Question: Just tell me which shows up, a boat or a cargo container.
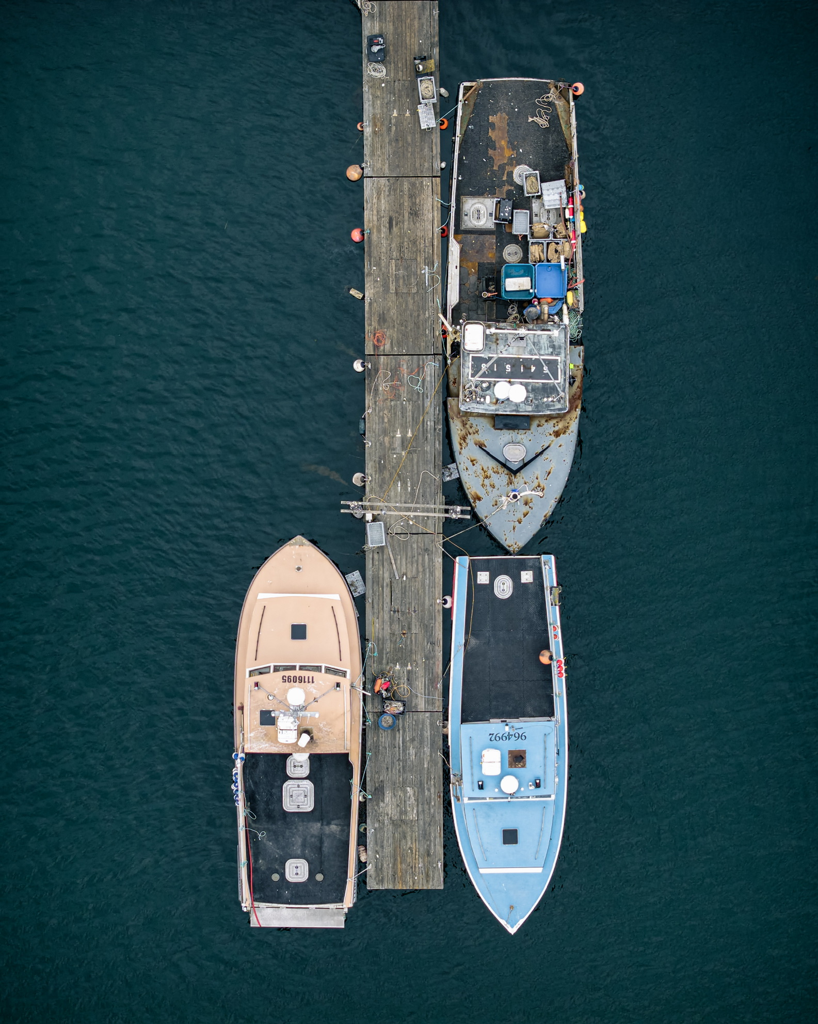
boat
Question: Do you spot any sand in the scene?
No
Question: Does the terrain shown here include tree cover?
No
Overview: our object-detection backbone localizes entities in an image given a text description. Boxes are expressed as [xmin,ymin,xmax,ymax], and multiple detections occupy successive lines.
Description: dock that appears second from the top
[364,178,441,356]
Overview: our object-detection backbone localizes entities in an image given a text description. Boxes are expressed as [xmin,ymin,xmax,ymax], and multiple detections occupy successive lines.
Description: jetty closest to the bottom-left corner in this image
[366,711,443,889]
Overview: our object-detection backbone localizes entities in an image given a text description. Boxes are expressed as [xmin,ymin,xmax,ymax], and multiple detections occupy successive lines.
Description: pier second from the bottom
[366,534,443,711]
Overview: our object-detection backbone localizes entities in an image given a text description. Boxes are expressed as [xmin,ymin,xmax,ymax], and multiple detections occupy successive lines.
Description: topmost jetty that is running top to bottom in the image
[362,0,440,178]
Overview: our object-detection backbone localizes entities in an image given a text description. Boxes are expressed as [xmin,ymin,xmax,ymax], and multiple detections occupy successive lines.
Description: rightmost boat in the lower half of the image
[449,555,569,934]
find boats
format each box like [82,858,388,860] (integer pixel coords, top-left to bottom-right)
[438,78,584,556]
[449,555,569,934]
[233,535,370,928]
